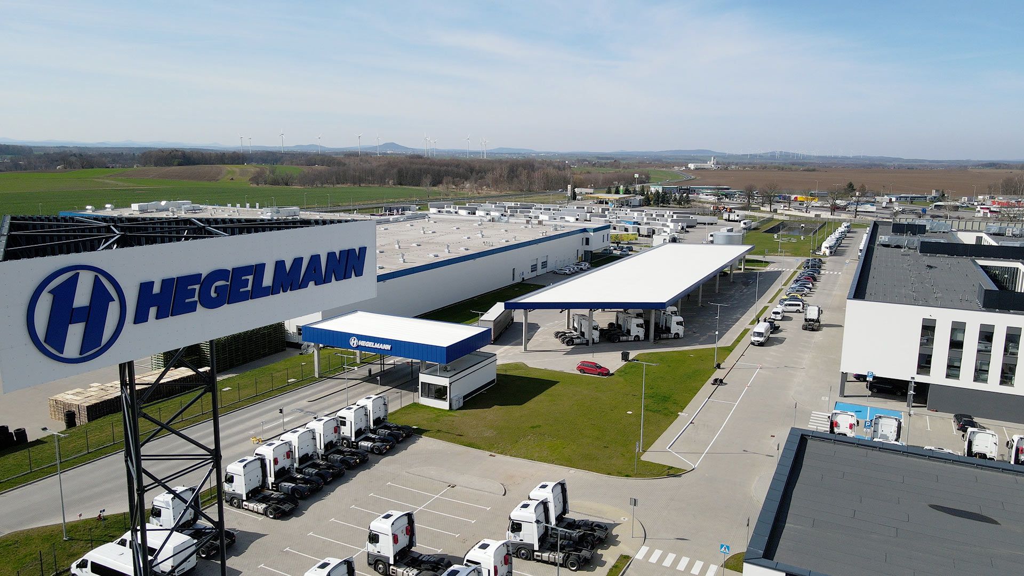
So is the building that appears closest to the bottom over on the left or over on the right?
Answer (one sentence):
The building that appears closest to the bottom appears in the right half of the scene.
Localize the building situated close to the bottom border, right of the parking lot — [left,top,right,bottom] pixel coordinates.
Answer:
[743,428,1024,576]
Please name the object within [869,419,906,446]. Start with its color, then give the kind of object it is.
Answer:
white truck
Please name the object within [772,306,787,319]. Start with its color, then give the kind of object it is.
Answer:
white vehicle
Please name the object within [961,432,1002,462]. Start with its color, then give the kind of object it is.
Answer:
white truck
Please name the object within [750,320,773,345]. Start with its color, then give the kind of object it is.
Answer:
white vehicle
